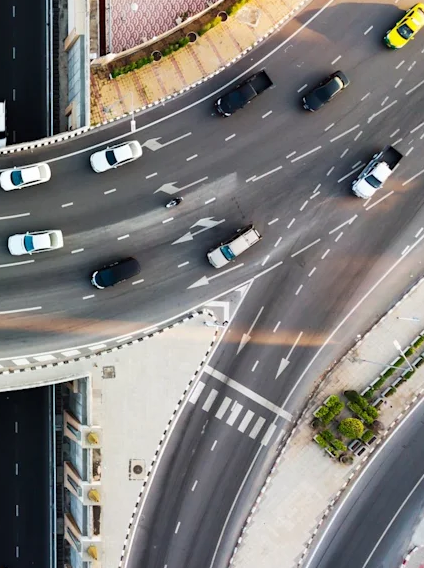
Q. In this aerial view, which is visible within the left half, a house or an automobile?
automobile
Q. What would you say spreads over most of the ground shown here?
paved ground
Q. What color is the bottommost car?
black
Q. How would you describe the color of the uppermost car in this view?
yellow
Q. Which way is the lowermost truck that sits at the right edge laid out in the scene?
on a diagonal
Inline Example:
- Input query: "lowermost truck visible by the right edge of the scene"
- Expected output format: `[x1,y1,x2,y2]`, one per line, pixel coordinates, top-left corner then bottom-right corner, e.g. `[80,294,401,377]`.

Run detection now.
[348,144,407,195]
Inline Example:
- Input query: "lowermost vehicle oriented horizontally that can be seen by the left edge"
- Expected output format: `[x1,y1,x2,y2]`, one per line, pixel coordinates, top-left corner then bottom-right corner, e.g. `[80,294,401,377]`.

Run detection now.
[8,229,63,256]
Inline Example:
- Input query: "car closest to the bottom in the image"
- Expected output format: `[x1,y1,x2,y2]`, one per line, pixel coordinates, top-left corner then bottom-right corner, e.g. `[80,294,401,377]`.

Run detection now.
[89,256,142,288]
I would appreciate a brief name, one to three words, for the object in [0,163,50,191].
car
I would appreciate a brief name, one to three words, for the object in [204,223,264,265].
truck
